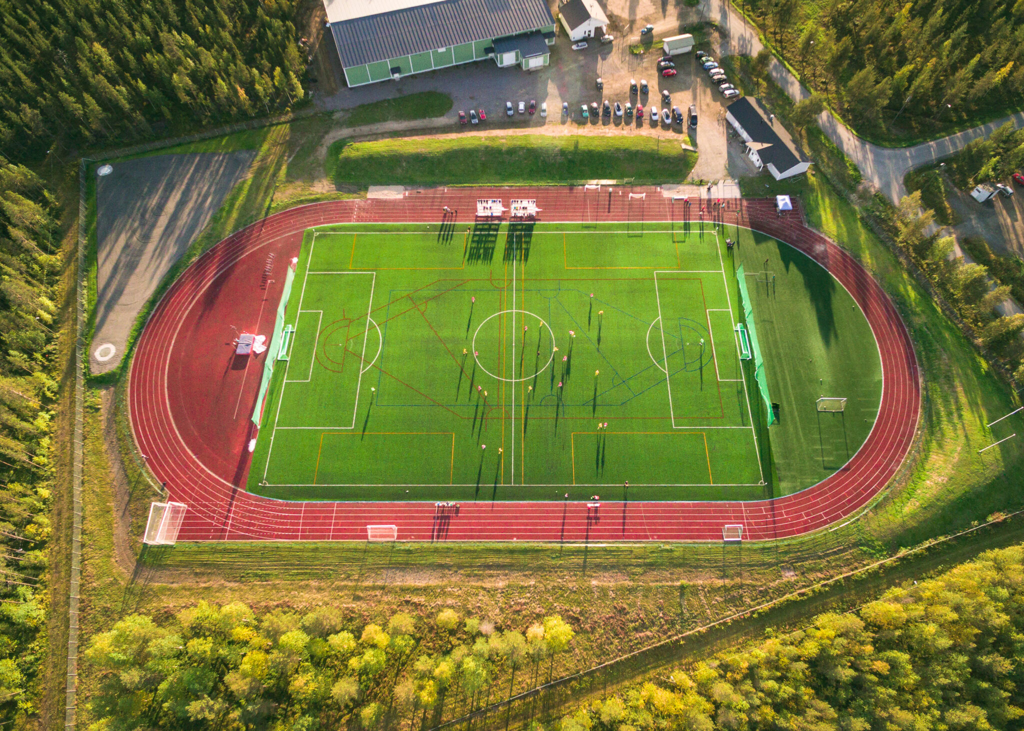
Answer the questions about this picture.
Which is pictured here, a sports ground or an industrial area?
sports ground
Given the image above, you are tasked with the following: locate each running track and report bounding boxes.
[128,184,922,541]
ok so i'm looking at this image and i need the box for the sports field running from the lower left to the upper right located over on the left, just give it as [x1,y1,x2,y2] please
[87,150,257,373]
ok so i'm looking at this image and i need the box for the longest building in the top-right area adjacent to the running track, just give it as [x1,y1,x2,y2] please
[726,96,815,181]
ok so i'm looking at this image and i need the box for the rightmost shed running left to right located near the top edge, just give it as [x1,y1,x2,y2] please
[664,34,697,54]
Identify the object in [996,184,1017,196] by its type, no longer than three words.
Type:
vehicle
